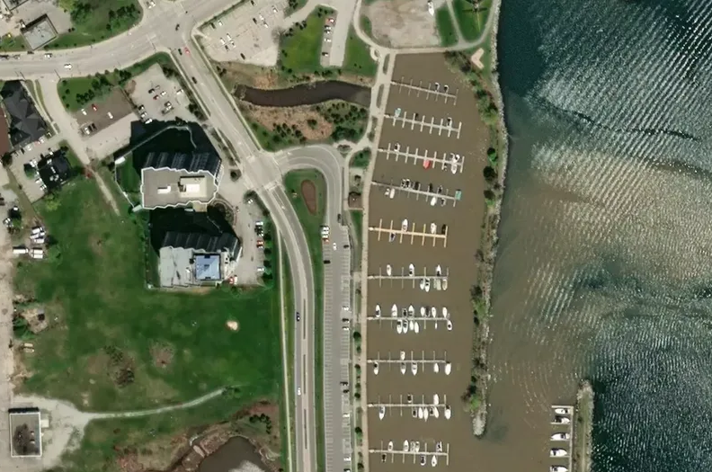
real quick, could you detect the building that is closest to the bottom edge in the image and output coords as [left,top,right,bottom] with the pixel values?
[9,411,50,456]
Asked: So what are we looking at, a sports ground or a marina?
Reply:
marina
